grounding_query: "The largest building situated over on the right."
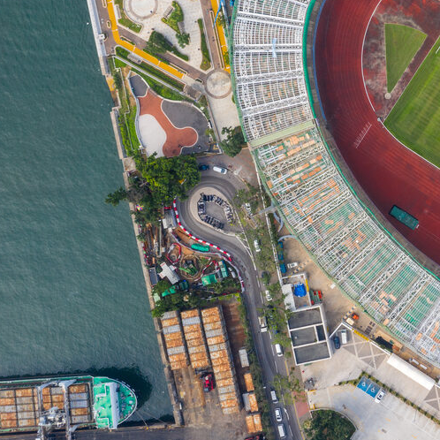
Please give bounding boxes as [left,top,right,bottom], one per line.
[286,299,335,366]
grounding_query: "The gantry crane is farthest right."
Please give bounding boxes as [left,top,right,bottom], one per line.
[61,373,86,440]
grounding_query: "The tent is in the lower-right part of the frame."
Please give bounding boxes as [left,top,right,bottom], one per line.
[387,353,435,391]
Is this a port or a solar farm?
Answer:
port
